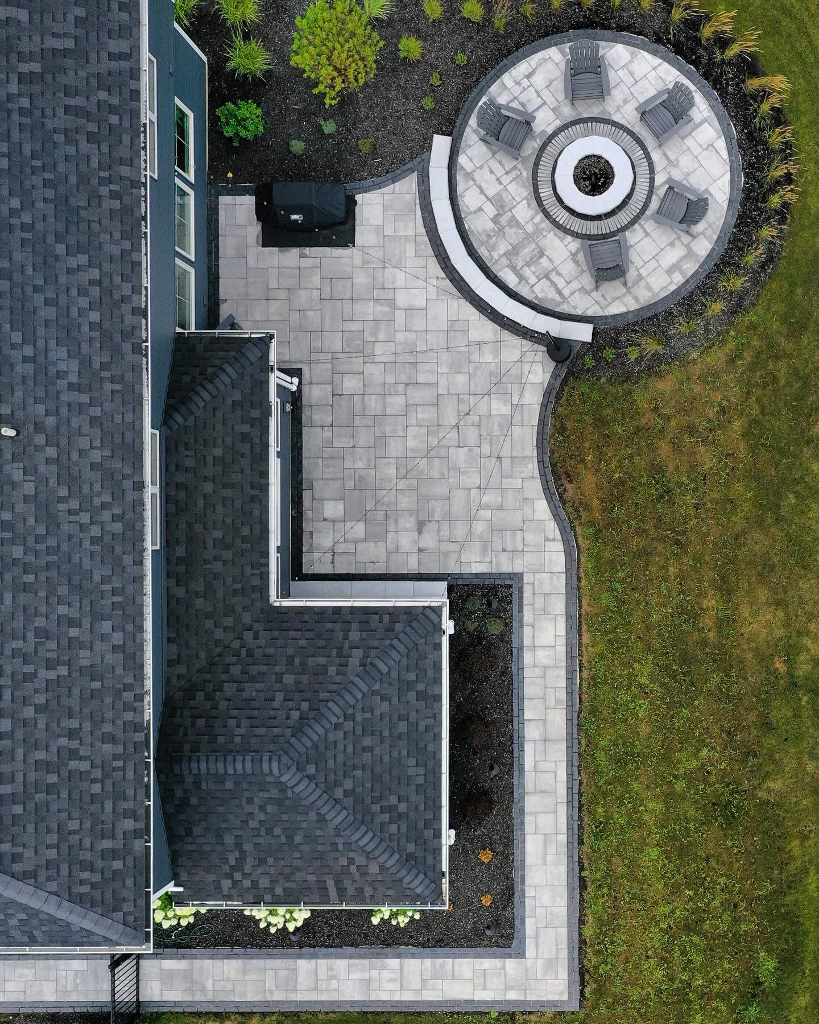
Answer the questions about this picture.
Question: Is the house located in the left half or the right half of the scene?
left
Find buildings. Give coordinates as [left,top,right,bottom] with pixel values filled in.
[0,0,455,954]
